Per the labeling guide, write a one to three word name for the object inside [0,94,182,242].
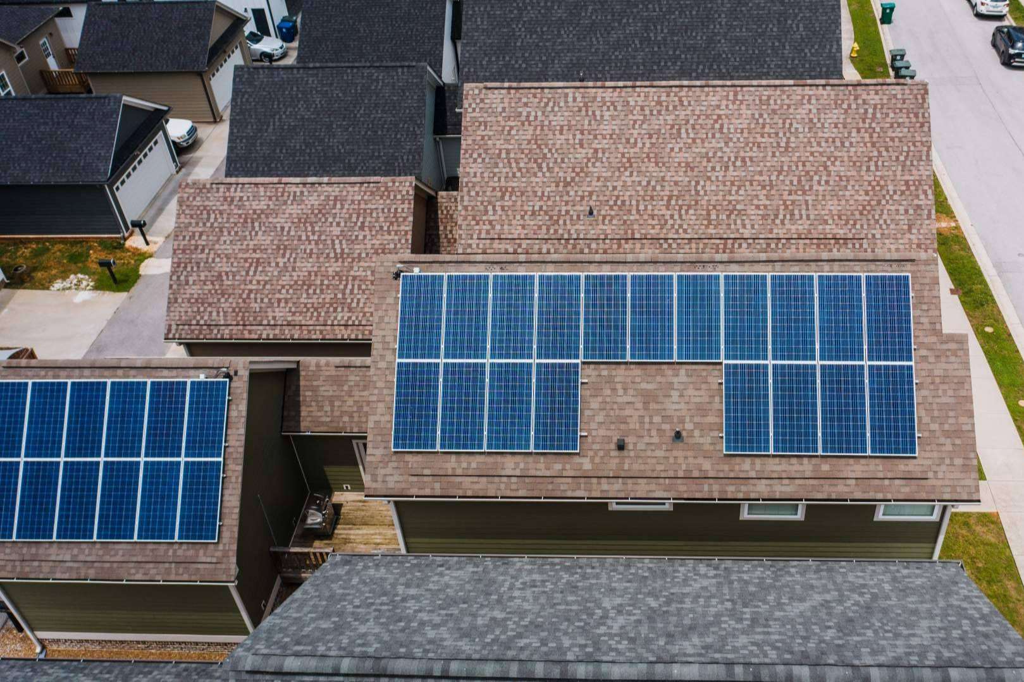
building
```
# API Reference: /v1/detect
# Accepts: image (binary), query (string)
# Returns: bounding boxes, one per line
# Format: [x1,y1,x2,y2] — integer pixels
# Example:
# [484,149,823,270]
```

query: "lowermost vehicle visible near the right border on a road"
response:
[990,17,1024,64]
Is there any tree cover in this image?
No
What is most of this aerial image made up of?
buildings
